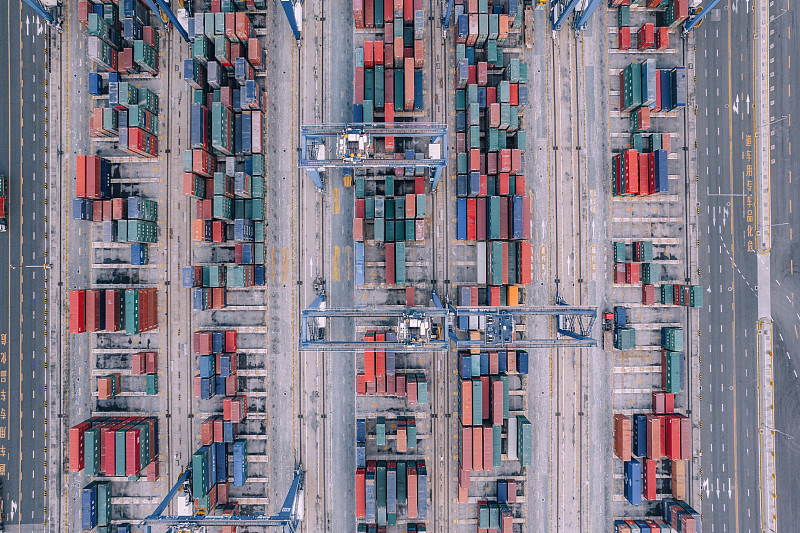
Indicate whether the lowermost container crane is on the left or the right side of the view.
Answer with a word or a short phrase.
left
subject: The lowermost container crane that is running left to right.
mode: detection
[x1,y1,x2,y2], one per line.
[143,463,305,533]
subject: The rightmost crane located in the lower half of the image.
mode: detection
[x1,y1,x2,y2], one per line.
[445,291,597,352]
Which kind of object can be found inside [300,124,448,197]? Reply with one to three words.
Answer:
container crane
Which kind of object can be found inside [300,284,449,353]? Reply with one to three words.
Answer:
container crane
